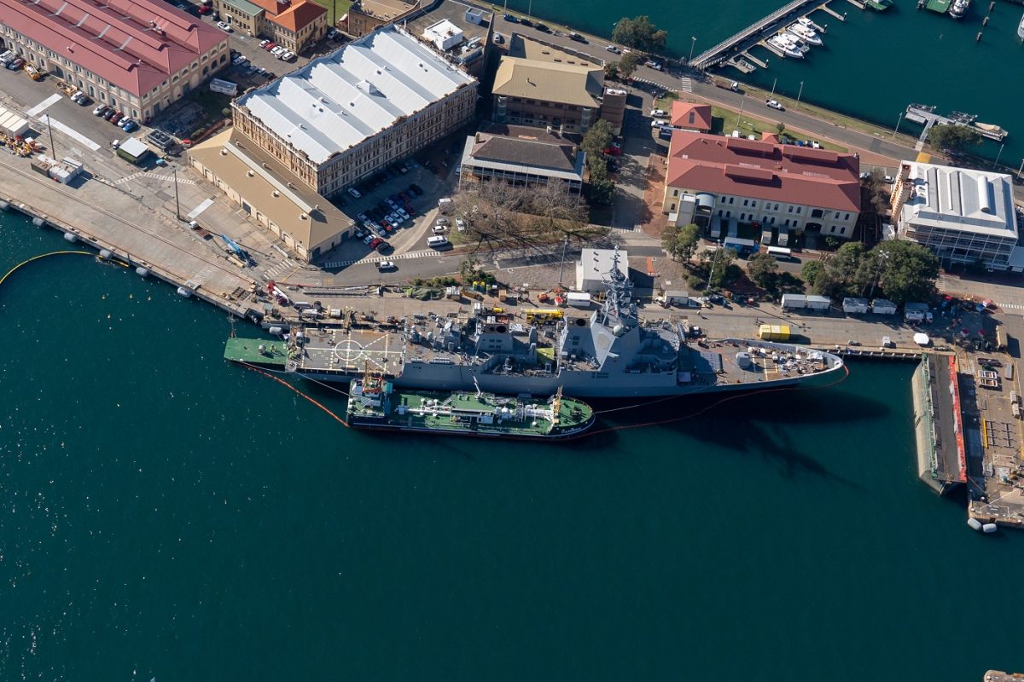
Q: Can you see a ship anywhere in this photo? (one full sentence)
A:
Yes, the photo shows a ship.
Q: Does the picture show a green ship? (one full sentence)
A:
Yes, the picture does show a green ship.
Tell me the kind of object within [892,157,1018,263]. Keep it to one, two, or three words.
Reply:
building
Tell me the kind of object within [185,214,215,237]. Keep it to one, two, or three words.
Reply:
truck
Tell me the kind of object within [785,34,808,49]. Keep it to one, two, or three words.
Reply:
boat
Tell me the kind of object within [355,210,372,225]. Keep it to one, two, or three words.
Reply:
car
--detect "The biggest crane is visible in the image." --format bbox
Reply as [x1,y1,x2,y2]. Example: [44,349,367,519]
[523,309,566,322]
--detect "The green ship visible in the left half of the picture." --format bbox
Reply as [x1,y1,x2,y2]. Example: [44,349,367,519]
[224,300,287,372]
